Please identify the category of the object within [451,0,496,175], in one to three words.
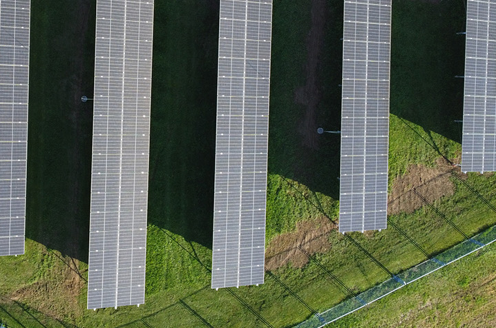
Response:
solar array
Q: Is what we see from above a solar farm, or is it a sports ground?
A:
solar farm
